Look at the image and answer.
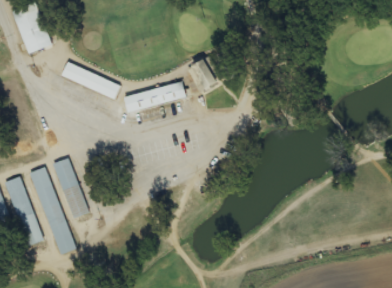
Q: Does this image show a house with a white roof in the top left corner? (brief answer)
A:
Yes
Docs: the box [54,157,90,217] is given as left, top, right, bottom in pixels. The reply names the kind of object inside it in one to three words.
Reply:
barn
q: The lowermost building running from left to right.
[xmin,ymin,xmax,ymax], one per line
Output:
[124,82,186,112]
